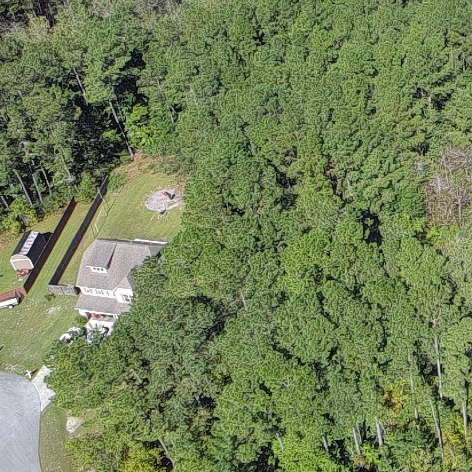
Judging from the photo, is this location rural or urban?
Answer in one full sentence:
From above, the setting appears rural.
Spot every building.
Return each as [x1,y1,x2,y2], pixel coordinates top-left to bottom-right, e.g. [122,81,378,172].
[72,244,182,328]
[0,230,46,272]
